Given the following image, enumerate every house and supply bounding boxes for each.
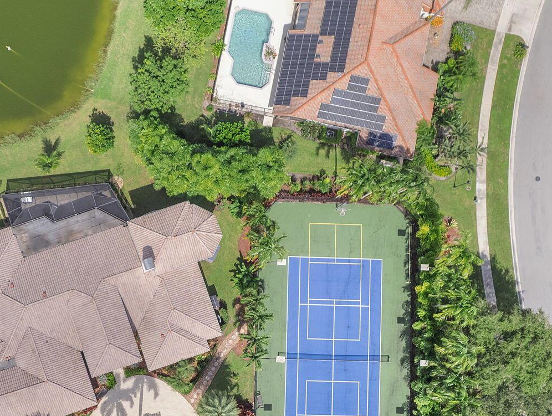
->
[273,0,444,160]
[0,200,223,416]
